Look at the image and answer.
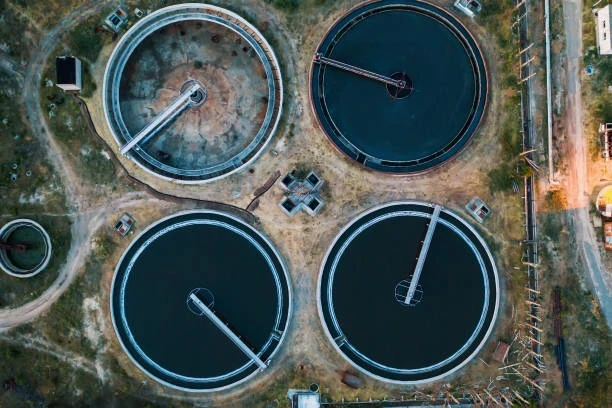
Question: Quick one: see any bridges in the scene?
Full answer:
Yes, a bridge appears in the view.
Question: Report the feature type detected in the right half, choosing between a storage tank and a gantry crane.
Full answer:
The feature located in the right half is a storage tank.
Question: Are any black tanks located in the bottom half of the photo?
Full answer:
Yes, a black tank is visible in the bottom half of the photo.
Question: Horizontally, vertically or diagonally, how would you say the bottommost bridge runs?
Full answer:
From this overhead view, the bottommost bridge appears to run diagonally.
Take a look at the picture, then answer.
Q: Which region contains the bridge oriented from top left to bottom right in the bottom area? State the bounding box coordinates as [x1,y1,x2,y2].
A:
[189,293,269,370]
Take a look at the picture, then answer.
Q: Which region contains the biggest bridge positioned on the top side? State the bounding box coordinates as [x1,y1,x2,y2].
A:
[118,82,201,156]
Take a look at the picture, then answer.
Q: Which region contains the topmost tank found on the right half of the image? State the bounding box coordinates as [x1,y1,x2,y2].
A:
[309,0,488,176]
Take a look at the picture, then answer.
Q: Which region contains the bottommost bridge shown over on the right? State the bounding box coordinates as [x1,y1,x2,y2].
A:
[404,204,441,305]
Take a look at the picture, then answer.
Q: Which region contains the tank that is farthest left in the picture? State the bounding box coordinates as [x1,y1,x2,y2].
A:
[0,219,53,278]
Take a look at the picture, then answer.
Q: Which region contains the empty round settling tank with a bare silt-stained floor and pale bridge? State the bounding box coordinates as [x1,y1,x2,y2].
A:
[103,4,283,183]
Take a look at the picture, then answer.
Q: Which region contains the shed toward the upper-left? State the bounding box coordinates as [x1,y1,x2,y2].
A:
[56,57,82,92]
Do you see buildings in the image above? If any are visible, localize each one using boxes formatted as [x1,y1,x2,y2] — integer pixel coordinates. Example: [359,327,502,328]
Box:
[56,57,82,92]
[290,386,322,408]
[595,4,612,53]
